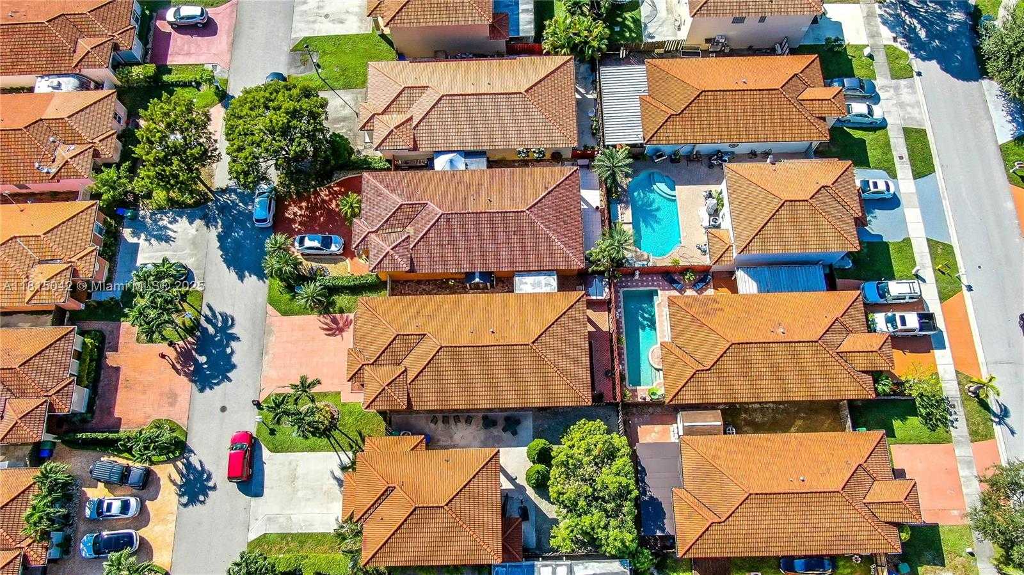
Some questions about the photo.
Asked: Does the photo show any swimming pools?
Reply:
Yes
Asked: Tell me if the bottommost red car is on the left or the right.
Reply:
left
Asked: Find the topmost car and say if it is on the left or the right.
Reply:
left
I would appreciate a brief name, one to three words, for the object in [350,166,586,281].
house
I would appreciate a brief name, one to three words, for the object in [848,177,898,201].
car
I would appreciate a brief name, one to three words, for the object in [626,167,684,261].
swimming pool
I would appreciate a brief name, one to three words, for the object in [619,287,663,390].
swimming pool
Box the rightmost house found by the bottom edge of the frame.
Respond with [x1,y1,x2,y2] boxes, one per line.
[672,430,926,559]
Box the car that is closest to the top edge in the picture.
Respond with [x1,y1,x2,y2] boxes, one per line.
[167,4,208,28]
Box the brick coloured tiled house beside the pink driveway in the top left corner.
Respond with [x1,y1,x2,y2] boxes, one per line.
[0,0,148,89]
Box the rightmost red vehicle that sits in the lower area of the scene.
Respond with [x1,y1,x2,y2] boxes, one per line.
[227,430,256,484]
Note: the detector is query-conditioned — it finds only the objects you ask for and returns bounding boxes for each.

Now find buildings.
[340,433,525,573]
[688,0,825,45]
[350,166,586,281]
[0,325,90,443]
[661,290,895,404]
[0,200,109,316]
[706,159,858,272]
[358,56,579,162]
[346,291,592,411]
[638,53,844,155]
[365,0,510,56]
[0,0,148,89]
[672,430,926,559]
[0,89,128,194]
